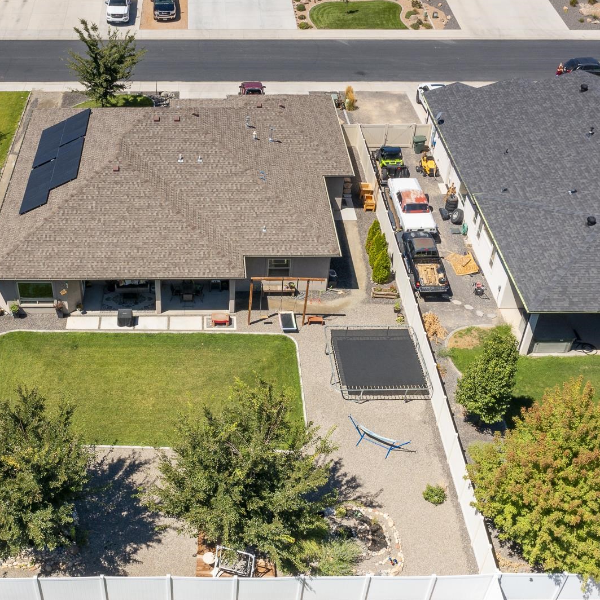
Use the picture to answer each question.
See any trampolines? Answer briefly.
Yes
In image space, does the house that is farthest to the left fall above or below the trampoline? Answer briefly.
above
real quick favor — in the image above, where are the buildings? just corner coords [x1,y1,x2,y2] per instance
[428,65,600,353]
[0,91,357,314]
